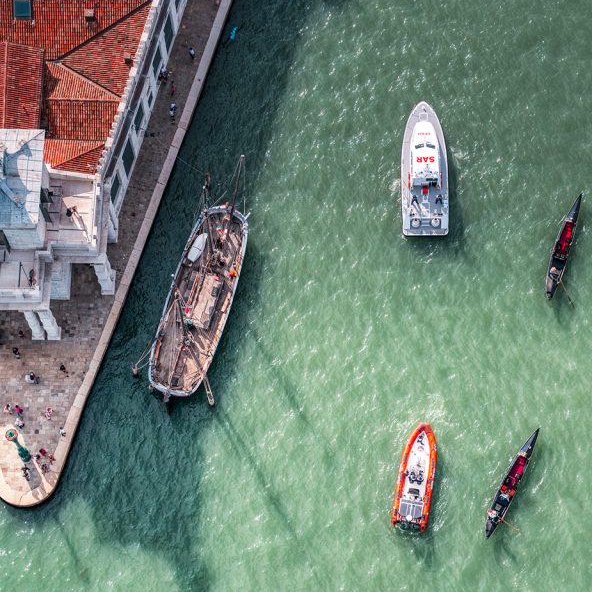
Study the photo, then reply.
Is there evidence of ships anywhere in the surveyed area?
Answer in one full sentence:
Yes, the frame does contain a ship.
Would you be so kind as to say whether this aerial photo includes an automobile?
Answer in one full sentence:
No, no automobile is visible in the scene.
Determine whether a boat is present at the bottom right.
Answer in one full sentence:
Yes, you'll find a boat at the bottom right.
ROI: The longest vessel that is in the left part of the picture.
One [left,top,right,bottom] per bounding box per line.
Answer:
[148,154,256,410]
